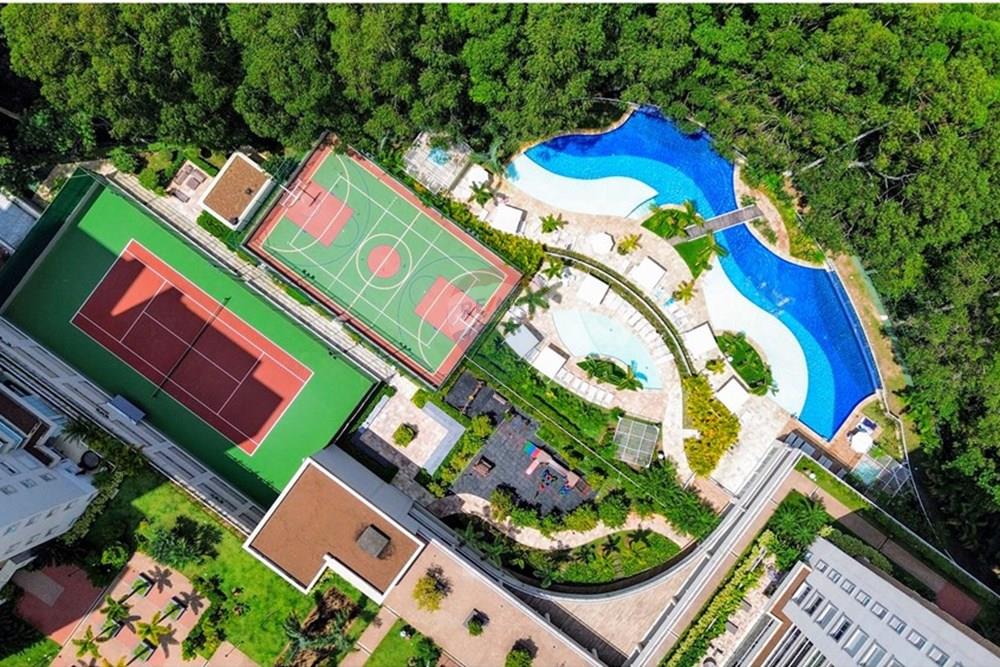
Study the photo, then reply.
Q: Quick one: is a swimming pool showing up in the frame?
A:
Yes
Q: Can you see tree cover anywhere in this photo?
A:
Yes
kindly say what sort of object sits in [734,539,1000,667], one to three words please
building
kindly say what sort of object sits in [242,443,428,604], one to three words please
building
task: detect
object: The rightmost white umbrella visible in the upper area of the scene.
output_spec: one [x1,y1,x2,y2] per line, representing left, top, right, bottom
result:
[591,232,610,253]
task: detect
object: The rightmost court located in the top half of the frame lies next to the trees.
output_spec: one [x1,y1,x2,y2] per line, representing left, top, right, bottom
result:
[254,135,520,383]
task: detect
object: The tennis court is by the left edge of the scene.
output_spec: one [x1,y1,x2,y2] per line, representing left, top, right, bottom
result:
[0,184,378,511]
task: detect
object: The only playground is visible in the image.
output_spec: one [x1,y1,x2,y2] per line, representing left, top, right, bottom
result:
[446,370,598,516]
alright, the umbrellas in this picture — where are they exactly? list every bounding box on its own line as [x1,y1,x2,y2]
[850,432,870,450]
[591,232,610,253]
